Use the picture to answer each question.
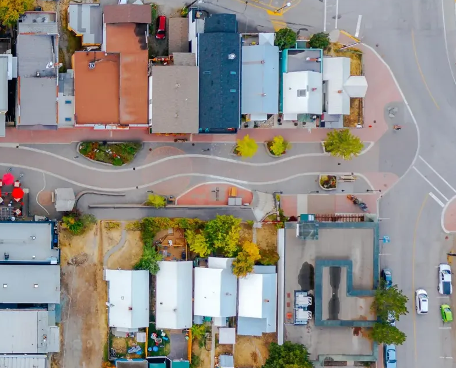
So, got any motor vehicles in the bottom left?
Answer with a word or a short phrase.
No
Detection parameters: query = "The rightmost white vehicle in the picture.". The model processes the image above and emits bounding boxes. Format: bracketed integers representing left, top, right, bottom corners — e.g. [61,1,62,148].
[436,264,453,295]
